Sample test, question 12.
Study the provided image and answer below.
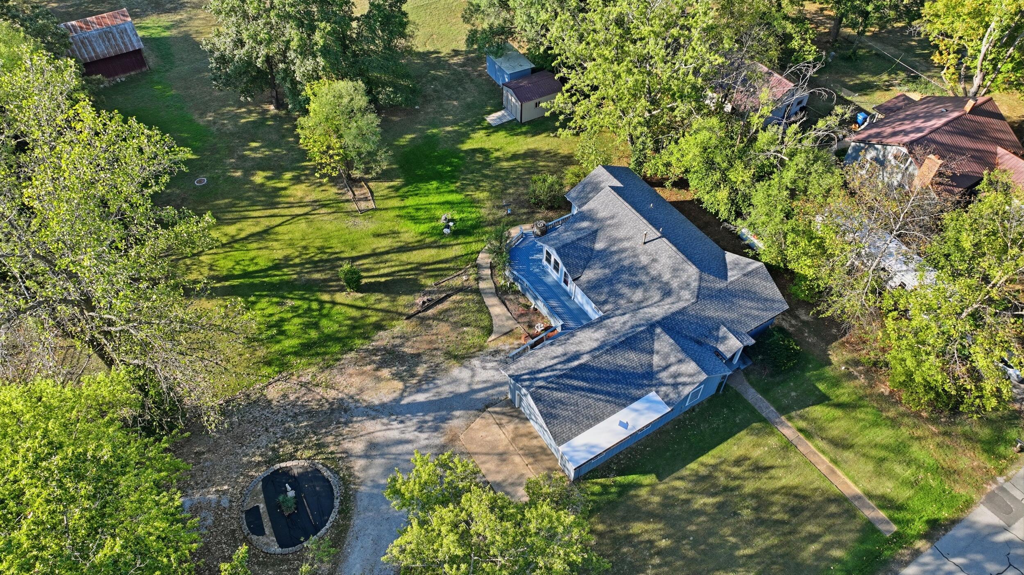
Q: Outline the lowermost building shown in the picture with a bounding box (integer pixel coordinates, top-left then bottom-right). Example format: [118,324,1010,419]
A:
[500,165,790,482]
